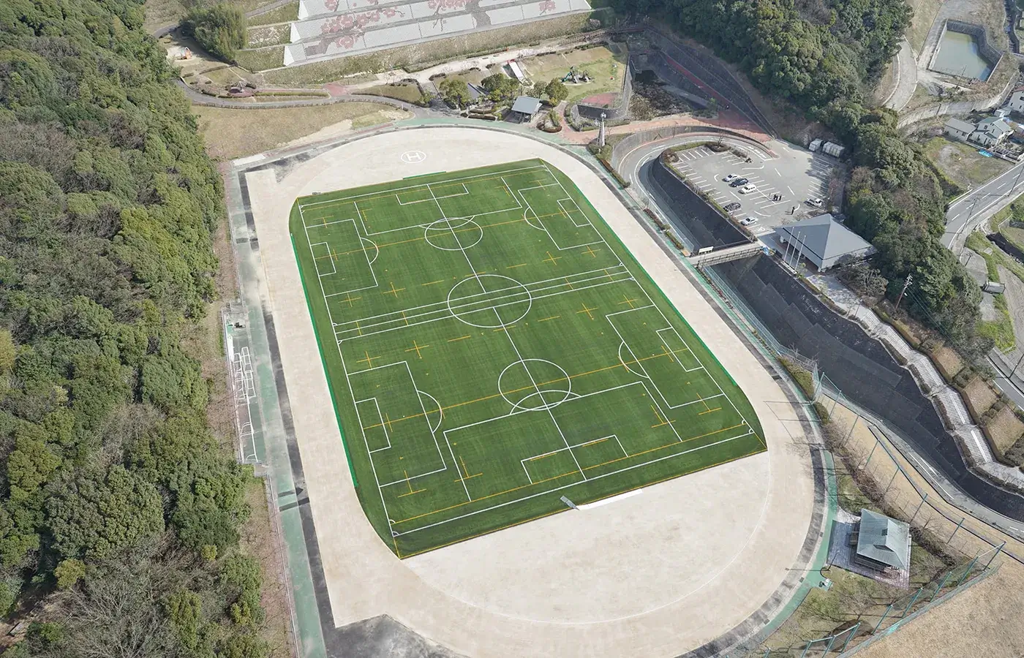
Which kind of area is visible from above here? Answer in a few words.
sports ground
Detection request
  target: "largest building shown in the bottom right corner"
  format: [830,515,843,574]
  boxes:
[842,508,910,579]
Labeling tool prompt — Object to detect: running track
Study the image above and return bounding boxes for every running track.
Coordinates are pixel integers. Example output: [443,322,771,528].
[246,127,815,658]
